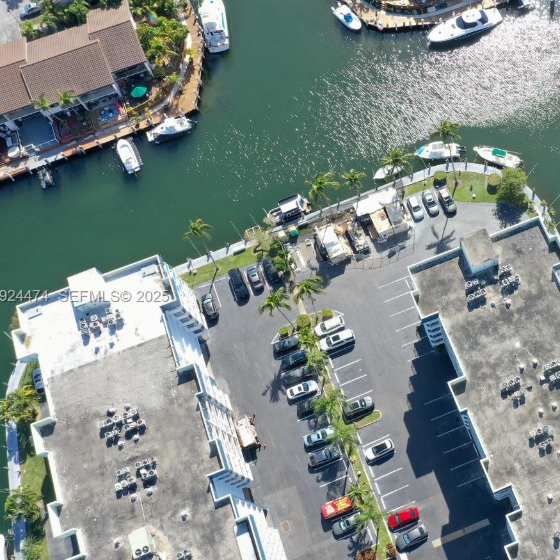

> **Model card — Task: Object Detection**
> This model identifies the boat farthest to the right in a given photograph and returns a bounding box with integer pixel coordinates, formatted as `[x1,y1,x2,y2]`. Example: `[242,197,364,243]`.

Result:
[470,145,525,170]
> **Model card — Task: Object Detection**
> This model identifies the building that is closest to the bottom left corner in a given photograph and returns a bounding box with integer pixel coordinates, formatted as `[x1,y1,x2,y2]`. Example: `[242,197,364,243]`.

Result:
[11,255,290,560]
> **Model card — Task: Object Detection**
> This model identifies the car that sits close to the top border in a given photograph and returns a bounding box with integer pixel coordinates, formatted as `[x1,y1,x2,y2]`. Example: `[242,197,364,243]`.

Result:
[17,3,45,22]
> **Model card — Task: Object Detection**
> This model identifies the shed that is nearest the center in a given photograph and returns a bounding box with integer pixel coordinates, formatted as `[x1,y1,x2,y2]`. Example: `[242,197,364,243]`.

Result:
[316,225,346,264]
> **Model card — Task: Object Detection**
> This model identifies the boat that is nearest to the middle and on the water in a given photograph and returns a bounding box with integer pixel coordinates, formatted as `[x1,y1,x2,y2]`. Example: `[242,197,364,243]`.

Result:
[267,199,312,226]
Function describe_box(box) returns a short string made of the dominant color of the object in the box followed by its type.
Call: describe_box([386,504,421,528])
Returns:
red car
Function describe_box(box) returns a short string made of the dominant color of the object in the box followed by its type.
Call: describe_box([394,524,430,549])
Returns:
gray car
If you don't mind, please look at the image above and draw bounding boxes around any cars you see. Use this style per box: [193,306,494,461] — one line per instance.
[306,447,342,468]
[437,186,457,216]
[260,257,284,287]
[280,366,313,385]
[286,382,320,401]
[245,265,265,294]
[394,524,430,549]
[270,332,303,355]
[301,426,335,447]
[386,504,421,528]
[313,314,346,337]
[420,188,439,217]
[319,328,356,351]
[278,347,311,371]
[30,367,47,397]
[363,438,398,463]
[405,193,425,223]
[17,3,45,22]
[226,265,250,301]
[293,394,323,416]
[201,292,221,322]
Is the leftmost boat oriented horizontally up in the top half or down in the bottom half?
top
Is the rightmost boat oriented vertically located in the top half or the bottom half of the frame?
top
